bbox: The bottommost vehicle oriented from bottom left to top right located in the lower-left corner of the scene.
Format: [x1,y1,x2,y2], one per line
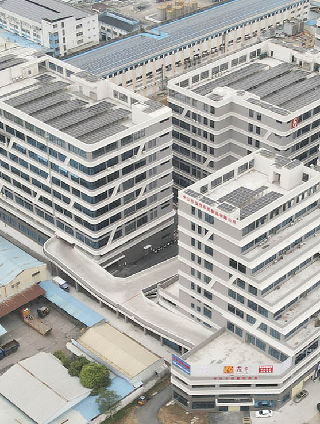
[0,334,19,363]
